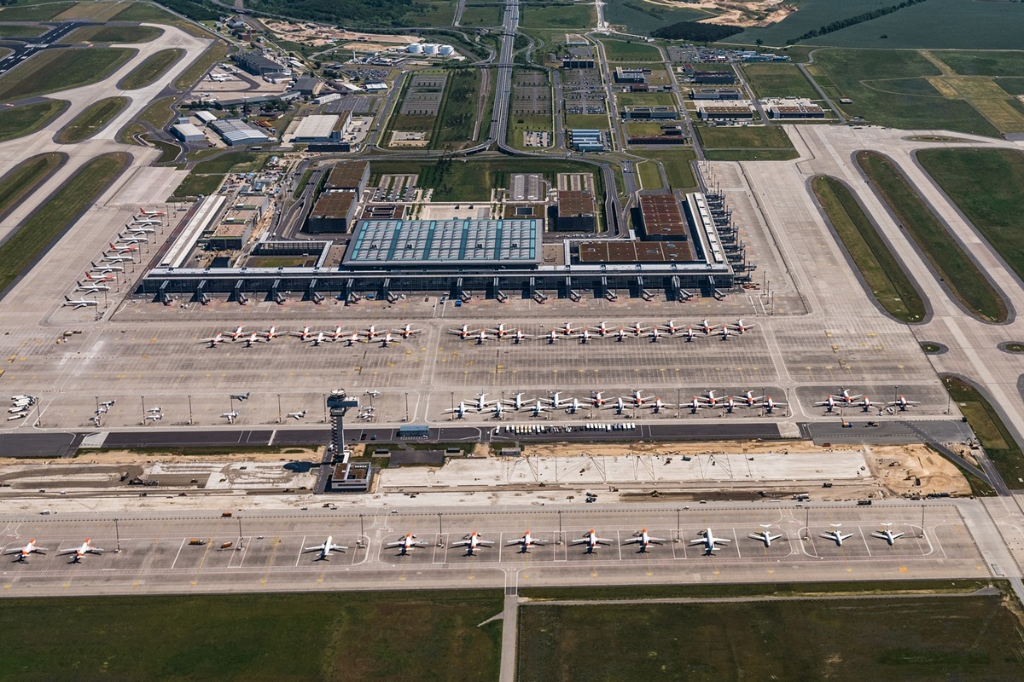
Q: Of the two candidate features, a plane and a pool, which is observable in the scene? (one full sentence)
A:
Visible in the photo is a plane.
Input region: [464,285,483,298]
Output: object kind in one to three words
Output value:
jet bridge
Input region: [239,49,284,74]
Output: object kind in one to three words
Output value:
hangar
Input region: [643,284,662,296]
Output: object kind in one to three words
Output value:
jet bridge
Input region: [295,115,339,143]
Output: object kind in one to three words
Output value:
building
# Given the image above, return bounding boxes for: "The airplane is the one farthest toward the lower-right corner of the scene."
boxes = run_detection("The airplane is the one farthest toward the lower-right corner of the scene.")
[874,518,904,539]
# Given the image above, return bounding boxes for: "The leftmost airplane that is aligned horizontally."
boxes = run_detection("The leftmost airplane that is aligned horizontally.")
[4,535,47,554]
